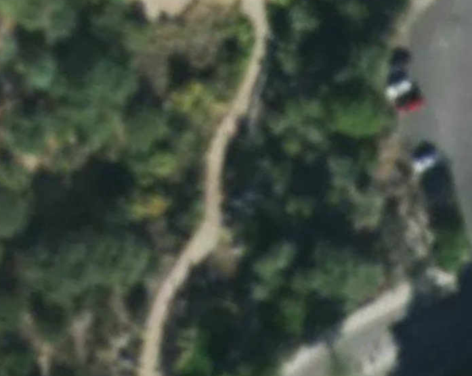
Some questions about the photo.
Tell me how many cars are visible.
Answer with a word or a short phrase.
4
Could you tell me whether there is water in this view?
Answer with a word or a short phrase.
No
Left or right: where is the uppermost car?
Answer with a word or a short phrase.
right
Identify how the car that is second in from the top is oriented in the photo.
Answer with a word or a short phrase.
on a diagonal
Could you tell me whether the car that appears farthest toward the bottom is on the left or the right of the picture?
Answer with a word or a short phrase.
right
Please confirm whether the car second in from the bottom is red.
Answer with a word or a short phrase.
Yes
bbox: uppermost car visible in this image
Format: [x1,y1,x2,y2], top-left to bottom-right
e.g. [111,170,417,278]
[388,48,416,70]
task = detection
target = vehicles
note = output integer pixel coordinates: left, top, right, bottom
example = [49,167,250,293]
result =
[395,94,425,116]
[388,48,416,70]
[385,77,414,101]
[411,151,439,173]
